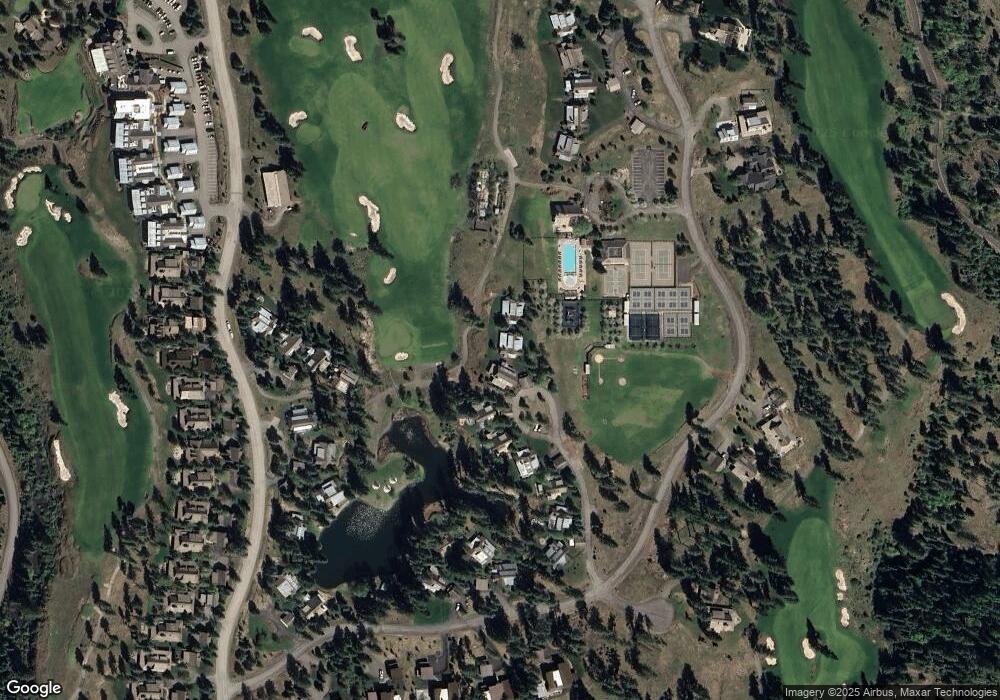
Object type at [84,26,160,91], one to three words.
building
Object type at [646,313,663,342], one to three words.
tennis court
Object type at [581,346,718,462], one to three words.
baseball field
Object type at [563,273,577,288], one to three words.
swimming pool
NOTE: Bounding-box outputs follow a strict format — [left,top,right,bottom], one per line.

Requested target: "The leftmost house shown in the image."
[12,19,42,42]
